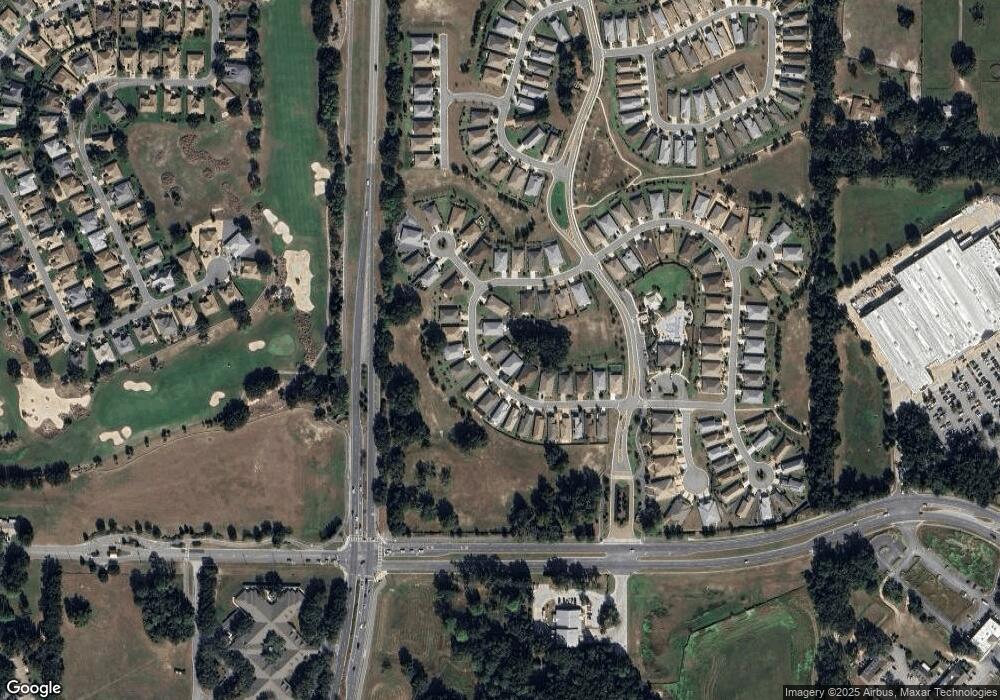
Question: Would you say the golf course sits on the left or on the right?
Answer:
left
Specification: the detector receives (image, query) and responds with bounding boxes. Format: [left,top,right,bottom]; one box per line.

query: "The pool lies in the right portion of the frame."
[656,300,691,345]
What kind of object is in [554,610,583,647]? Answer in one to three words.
building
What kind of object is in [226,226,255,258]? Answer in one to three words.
house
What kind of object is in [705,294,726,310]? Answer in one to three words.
house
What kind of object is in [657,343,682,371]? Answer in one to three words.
building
